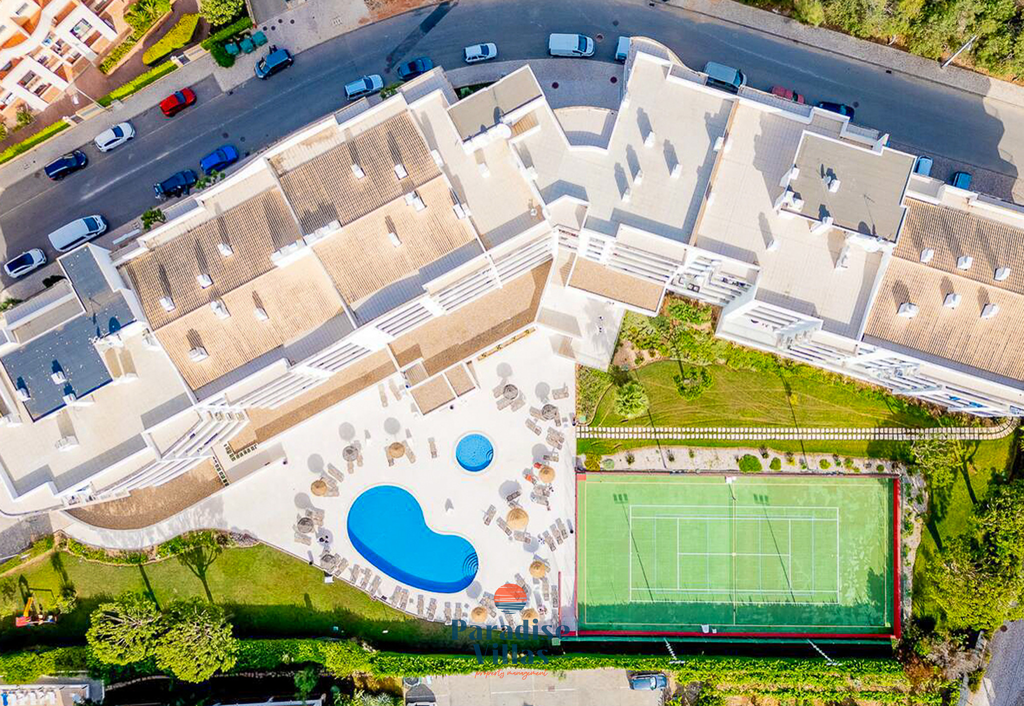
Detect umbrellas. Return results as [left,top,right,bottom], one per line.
[537,465,555,482]
[311,478,328,495]
[529,560,546,577]
[389,441,405,458]
[319,552,336,569]
[297,516,313,532]
[471,606,488,622]
[501,385,519,401]
[541,404,557,421]
[342,445,358,462]
[506,507,528,529]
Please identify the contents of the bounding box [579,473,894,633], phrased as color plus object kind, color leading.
green tennis court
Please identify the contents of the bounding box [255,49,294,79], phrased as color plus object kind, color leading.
blue car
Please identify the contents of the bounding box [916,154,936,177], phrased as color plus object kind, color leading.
blue car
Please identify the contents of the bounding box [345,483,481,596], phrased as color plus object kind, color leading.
blue swimming pool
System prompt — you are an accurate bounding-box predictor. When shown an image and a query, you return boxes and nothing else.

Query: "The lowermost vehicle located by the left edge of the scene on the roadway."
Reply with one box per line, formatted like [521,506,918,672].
[5,249,48,278]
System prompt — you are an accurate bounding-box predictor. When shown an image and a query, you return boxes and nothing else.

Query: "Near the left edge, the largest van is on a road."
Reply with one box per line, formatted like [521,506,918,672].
[49,215,109,254]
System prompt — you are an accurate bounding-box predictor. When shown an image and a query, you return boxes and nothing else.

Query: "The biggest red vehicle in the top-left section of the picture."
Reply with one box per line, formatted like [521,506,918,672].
[159,89,197,117]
